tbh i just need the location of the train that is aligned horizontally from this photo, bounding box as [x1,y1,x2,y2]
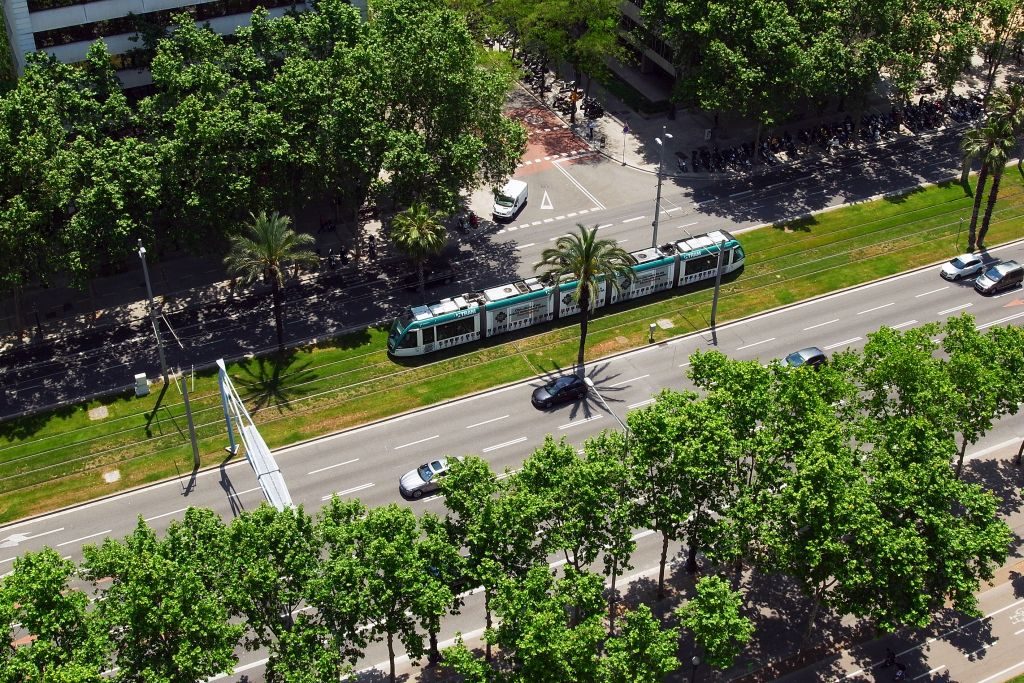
[385,228,750,357]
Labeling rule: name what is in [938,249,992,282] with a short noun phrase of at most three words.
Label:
car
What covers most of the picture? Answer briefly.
trees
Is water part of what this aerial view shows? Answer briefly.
No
